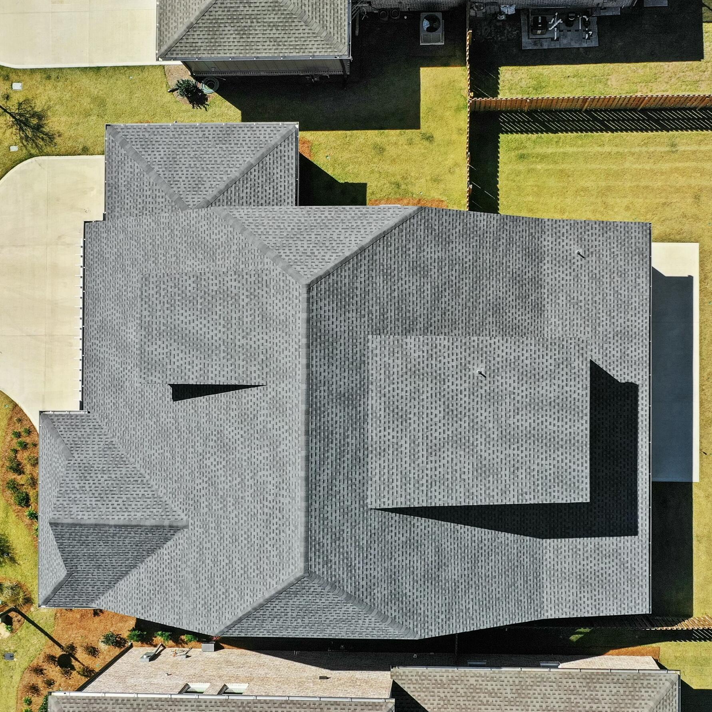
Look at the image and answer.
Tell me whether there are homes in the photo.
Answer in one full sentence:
Yes, the photo shows a home.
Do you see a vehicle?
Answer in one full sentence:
No, this view has no vehicle in it.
